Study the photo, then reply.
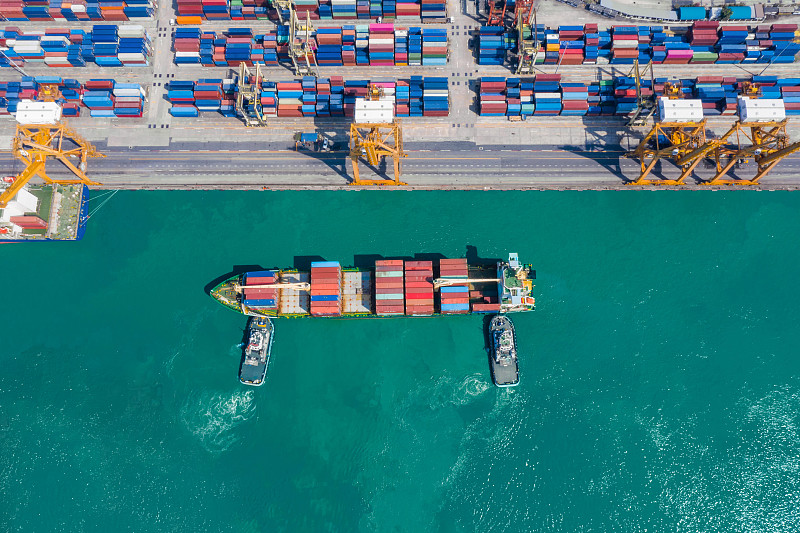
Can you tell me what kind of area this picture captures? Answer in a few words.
port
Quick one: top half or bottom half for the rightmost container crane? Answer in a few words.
top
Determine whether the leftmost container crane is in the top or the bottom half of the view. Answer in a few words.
top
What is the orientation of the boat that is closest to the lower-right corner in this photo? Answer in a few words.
vertically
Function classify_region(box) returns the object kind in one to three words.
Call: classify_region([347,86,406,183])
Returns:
container crane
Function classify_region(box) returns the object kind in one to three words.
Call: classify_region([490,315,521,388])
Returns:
boat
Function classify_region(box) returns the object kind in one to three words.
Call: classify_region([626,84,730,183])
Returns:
container crane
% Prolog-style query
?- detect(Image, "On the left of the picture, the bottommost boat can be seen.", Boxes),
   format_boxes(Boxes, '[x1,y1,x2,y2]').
[238,317,273,388]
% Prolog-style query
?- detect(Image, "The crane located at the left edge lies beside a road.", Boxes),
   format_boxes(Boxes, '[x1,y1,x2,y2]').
[0,88,104,208]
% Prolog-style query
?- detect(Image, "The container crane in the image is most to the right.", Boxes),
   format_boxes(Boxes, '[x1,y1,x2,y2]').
[704,84,800,183]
